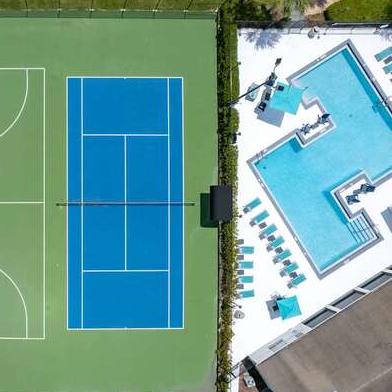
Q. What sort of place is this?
sports ground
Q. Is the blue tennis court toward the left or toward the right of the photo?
left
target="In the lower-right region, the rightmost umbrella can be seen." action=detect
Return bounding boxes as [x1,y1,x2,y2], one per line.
[273,295,302,320]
